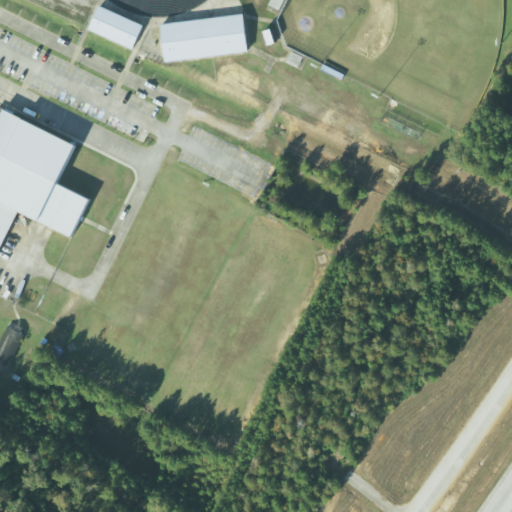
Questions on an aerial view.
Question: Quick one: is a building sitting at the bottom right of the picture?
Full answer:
No, I see no building at the bottom right of the picture.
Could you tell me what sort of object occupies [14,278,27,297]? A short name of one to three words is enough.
vehicle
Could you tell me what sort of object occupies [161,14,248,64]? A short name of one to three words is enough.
building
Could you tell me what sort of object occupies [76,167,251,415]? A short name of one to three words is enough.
sports field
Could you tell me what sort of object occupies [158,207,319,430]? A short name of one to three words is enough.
sports field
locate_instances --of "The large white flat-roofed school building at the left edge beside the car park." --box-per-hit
[0,108,91,250]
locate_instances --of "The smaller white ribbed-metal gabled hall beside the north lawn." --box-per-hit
[88,6,143,52]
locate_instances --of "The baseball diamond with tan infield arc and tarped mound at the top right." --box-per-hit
[279,0,505,127]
